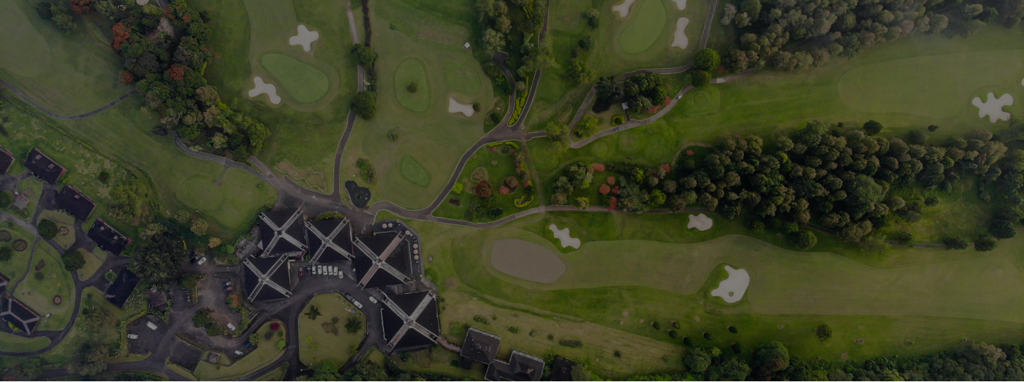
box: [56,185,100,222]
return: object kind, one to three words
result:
house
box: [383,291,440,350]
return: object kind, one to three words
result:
building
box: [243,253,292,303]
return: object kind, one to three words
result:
building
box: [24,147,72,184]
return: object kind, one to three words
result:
house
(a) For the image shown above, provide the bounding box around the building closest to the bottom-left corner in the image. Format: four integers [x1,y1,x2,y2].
[0,298,43,335]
